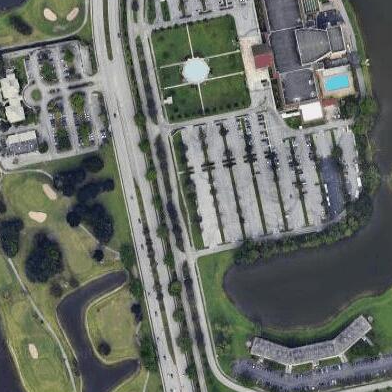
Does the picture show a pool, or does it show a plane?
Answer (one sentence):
This aerial view contains a pool.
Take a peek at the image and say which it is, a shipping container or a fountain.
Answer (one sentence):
There is a fountain in the scene.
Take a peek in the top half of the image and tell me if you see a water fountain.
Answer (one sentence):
Yes, a water fountain appears in the top half of the image.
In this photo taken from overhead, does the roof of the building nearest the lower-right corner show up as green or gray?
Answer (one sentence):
The color of the roof of the building nearest the lower-right corner is gray.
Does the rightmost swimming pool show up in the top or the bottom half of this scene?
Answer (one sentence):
Seen from above, the rightmost swimming pool lies in the top half of the view.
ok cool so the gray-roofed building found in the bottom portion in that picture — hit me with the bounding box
[251,316,372,370]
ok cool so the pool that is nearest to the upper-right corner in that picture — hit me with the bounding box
[318,65,357,100]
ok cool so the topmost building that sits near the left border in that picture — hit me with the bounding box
[0,73,21,101]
